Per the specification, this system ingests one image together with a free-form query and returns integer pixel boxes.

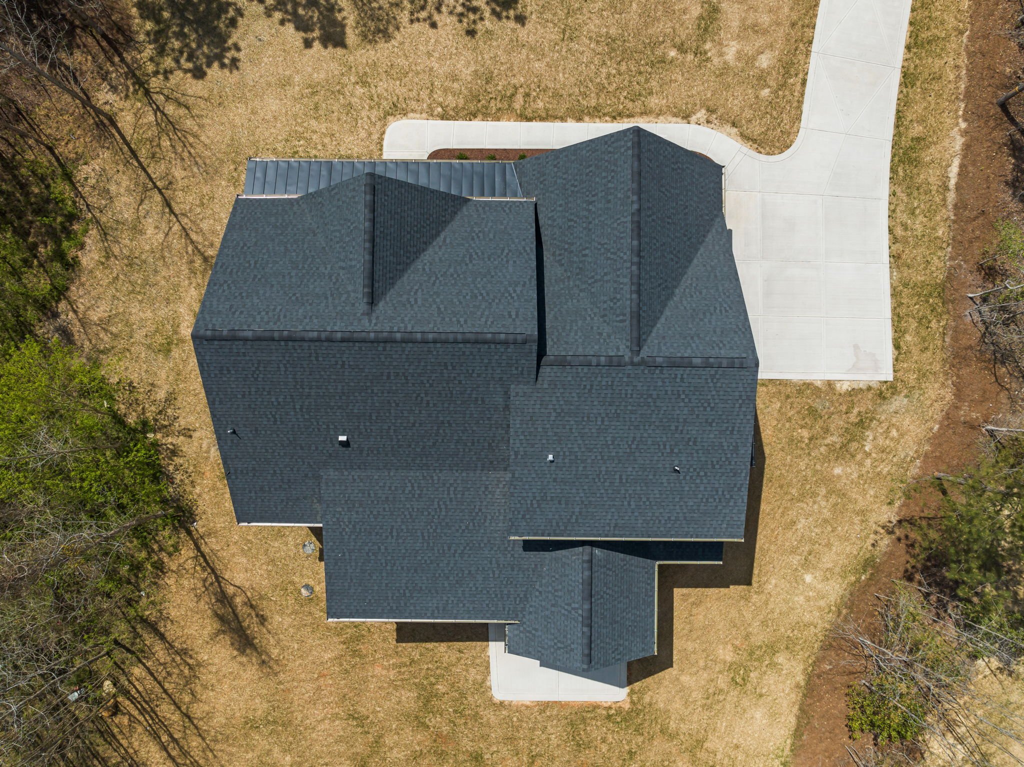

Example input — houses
[192,125,758,673]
